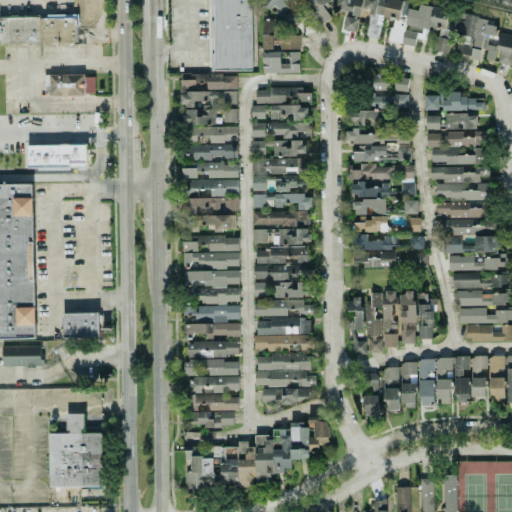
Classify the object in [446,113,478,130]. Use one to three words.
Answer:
house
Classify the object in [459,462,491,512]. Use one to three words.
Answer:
tennis court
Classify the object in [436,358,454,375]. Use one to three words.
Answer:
building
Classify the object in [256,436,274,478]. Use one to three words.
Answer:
house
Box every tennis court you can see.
[491,462,512,512]
[459,462,491,512]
